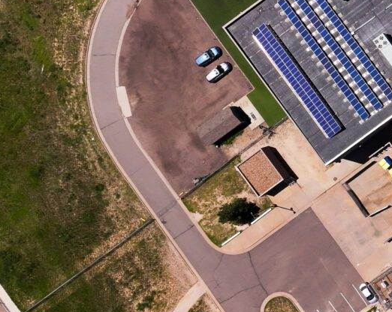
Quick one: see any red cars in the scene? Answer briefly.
No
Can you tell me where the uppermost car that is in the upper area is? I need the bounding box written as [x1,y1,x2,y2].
[197,46,222,65]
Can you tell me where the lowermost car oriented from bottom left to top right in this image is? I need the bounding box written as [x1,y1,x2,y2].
[207,61,232,81]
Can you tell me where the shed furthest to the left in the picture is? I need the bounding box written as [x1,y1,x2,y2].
[197,107,247,145]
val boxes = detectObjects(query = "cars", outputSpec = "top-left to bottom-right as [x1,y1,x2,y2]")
[197,46,222,65]
[358,279,378,302]
[207,61,232,81]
